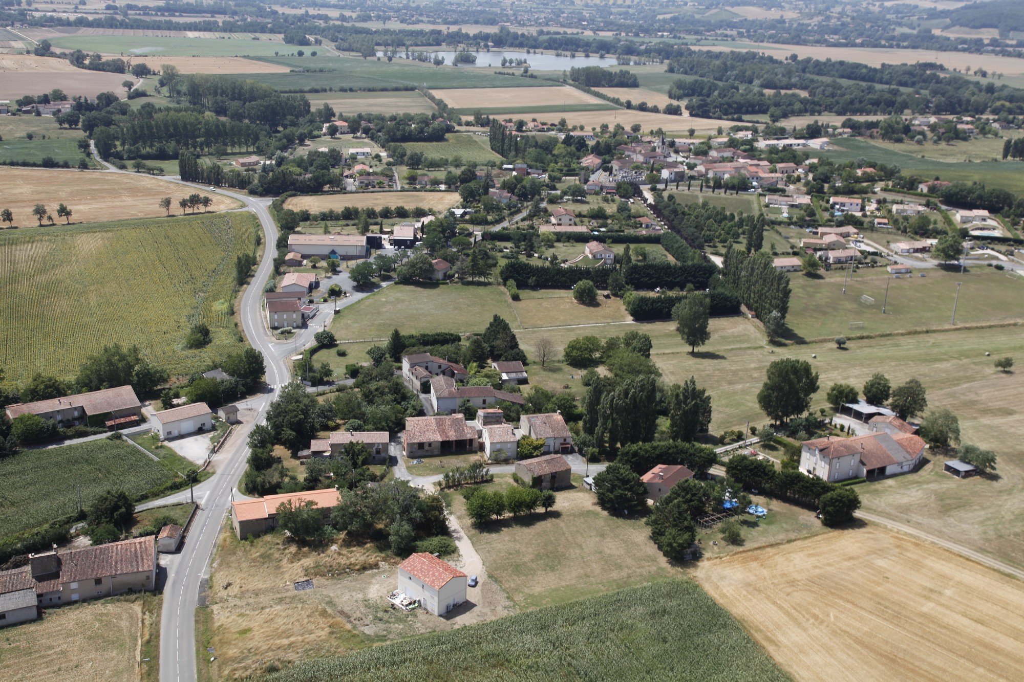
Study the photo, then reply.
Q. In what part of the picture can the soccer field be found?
right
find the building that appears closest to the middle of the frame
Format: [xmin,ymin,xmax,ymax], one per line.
[497,361,532,388]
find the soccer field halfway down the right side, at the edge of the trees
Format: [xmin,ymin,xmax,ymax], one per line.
[785,270,1024,343]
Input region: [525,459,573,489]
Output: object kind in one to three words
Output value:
barn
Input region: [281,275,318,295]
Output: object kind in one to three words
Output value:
building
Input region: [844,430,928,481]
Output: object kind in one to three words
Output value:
barn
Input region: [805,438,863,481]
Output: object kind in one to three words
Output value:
house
